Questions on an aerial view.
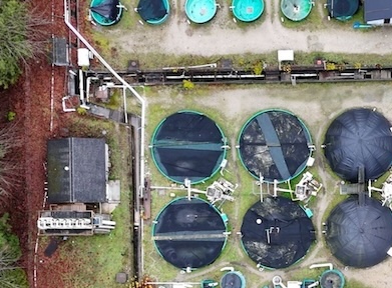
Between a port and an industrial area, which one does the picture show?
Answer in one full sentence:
The area seen from above is an industrial area.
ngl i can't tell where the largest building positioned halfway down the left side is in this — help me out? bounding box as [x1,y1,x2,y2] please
[48,136,114,203]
